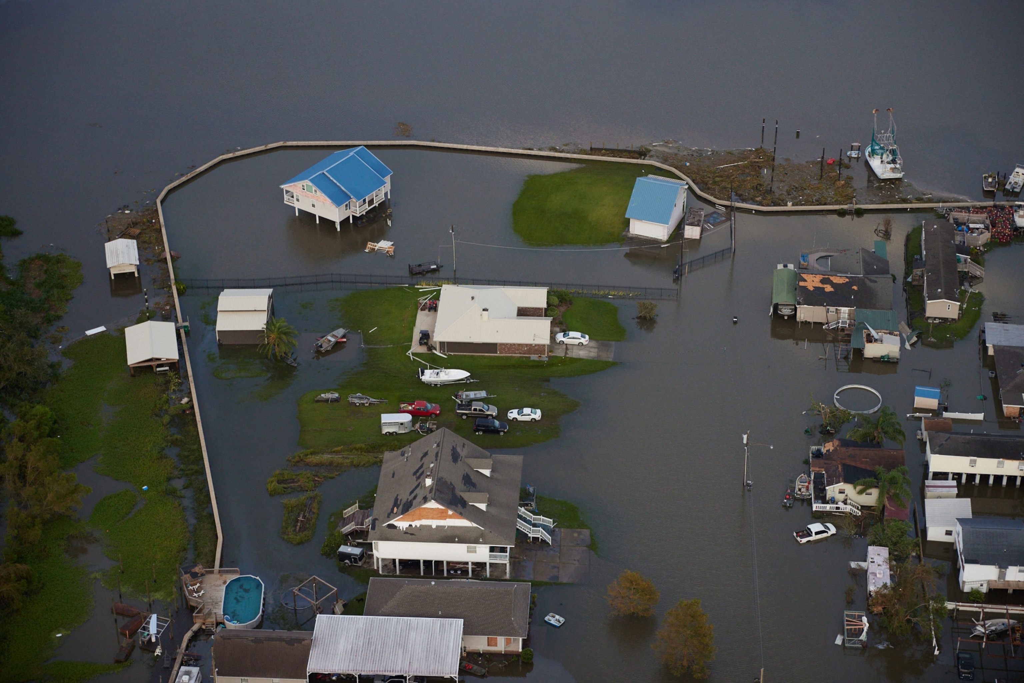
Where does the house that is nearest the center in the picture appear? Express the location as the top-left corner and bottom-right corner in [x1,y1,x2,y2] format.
[411,285,556,362]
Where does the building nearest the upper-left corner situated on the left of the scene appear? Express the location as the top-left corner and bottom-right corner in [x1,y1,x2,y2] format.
[105,238,139,280]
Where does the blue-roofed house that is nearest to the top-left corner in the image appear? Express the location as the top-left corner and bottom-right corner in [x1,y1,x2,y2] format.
[279,145,395,232]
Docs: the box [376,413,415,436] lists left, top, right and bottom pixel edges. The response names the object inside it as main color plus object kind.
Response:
white trailer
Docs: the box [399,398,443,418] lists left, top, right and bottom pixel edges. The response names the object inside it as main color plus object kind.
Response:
red vehicle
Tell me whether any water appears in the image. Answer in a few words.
Yes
